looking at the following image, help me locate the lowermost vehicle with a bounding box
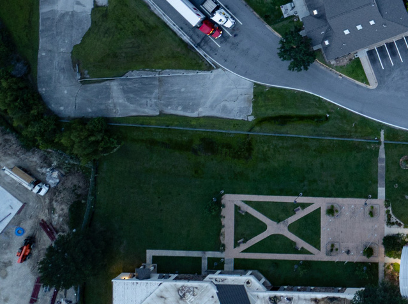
[13,239,34,267]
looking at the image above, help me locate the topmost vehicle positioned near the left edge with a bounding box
[0,165,49,194]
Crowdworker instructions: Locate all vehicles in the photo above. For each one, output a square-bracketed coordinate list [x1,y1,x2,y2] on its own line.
[197,0,237,29]
[0,165,49,194]
[13,239,34,267]
[166,0,225,39]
